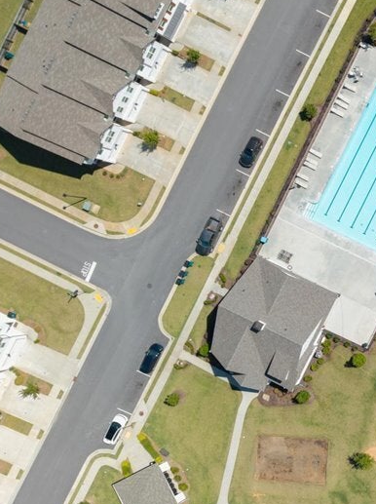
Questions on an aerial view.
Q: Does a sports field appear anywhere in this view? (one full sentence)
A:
No, the photo shows no sports field.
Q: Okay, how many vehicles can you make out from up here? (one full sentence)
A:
In total, there are 4 vehicles in the scene.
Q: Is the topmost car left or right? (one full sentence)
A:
The topmost car sits on the right side.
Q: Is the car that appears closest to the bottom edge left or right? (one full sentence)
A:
The car that appears closest to the bottom edge sits on the left side.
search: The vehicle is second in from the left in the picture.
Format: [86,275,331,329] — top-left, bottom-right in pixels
[137,342,166,375]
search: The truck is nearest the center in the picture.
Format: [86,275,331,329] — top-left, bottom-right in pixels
[197,218,223,255]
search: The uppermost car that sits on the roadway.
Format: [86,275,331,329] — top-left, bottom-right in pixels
[240,136,264,168]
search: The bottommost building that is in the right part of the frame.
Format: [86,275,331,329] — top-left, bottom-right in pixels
[202,255,336,392]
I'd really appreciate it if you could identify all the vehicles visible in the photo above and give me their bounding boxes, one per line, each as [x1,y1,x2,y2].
[137,342,166,375]
[197,218,223,255]
[240,136,264,168]
[103,414,129,445]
